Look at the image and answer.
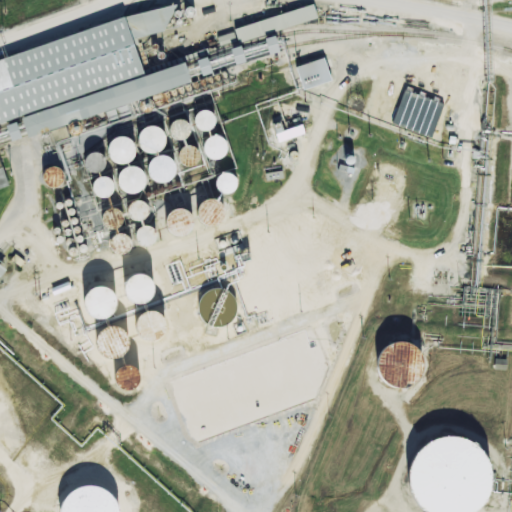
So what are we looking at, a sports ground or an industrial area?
industrial area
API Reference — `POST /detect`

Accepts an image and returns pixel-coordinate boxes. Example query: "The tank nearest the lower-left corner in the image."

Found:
[60,483,120,512]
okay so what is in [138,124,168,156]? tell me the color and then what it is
white storage tank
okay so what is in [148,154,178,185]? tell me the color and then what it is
white storage tank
